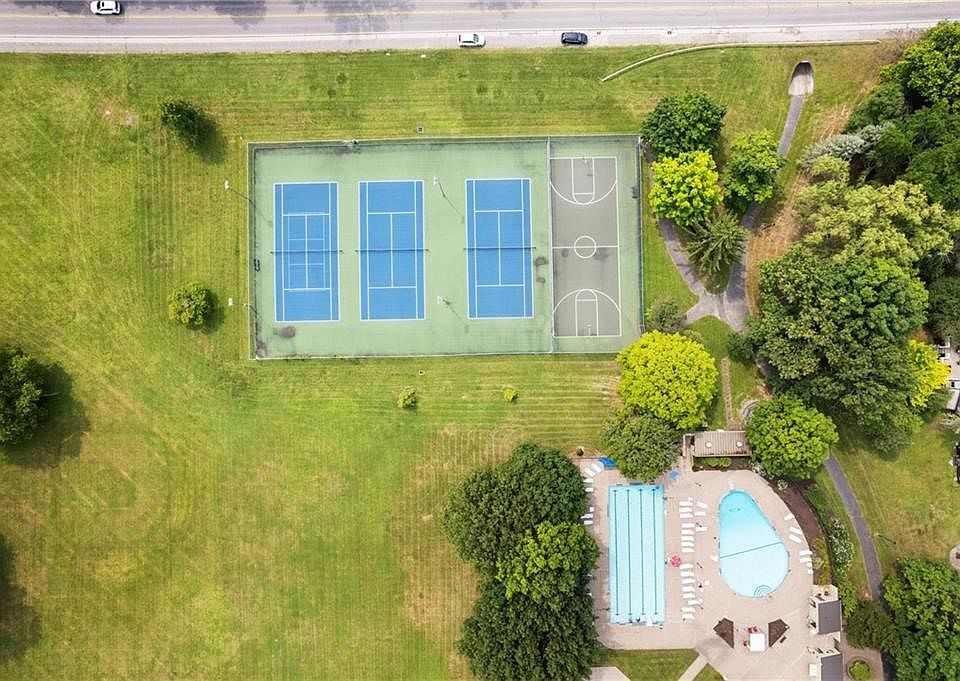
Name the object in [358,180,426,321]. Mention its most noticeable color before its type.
blue tennis court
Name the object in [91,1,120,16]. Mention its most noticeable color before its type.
white car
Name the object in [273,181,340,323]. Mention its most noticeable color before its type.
blue tennis court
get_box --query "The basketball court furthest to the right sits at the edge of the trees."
[549,157,620,338]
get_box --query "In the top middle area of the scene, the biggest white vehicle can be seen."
[458,32,485,47]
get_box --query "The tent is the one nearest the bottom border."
[742,627,765,652]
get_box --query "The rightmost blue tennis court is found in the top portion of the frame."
[465,177,533,319]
